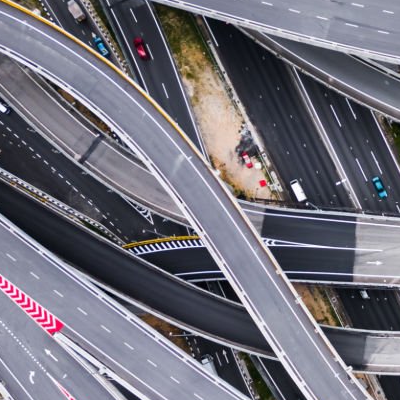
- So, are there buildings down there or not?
No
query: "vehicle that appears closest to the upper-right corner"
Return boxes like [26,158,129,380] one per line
[372,175,386,198]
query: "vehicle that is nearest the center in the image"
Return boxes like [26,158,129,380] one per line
[289,179,306,204]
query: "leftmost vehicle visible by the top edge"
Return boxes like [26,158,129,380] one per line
[66,0,87,25]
